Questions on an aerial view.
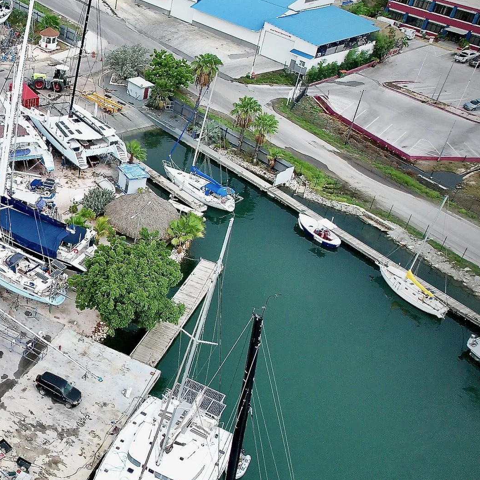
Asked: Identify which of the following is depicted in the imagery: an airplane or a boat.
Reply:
boat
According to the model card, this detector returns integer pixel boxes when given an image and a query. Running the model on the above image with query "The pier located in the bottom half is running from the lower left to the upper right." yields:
[132,258,223,368]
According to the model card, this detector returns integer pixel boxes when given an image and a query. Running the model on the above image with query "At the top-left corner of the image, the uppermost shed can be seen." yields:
[33,29,64,57]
